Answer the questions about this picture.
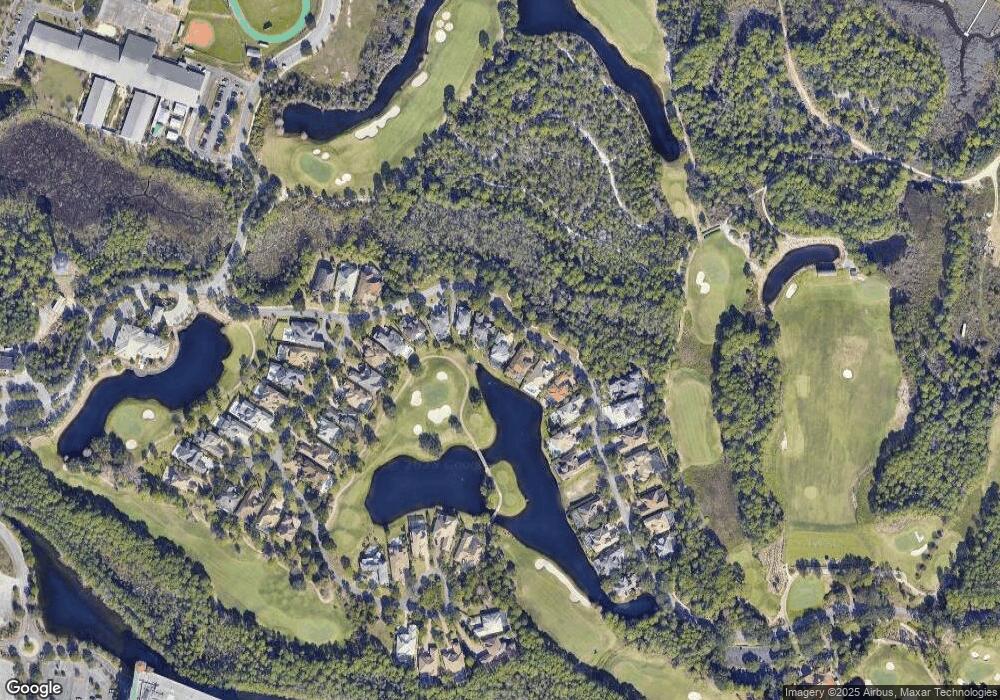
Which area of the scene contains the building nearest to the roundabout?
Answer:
bottom left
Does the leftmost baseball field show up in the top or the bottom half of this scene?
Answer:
top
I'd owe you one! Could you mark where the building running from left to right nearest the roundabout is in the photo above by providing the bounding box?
[130,662,223,700]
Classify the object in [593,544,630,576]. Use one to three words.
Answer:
house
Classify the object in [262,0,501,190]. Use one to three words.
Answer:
golf course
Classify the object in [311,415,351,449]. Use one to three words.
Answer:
house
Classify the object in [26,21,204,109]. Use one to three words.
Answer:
building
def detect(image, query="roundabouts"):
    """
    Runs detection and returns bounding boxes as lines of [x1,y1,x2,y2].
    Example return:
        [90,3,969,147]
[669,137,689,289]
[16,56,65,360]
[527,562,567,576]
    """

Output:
[9,626,47,664]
